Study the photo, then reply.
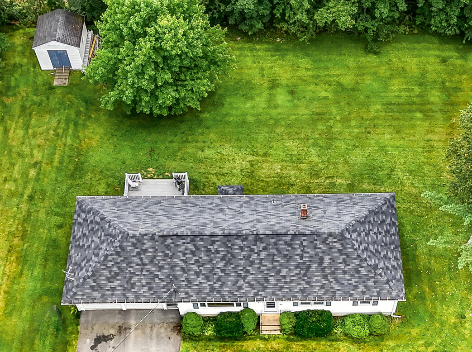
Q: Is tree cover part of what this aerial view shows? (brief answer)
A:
Yes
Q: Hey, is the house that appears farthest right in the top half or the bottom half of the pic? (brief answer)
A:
bottom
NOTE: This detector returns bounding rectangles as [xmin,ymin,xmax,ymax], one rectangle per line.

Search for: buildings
[60,186,407,316]
[33,6,88,69]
